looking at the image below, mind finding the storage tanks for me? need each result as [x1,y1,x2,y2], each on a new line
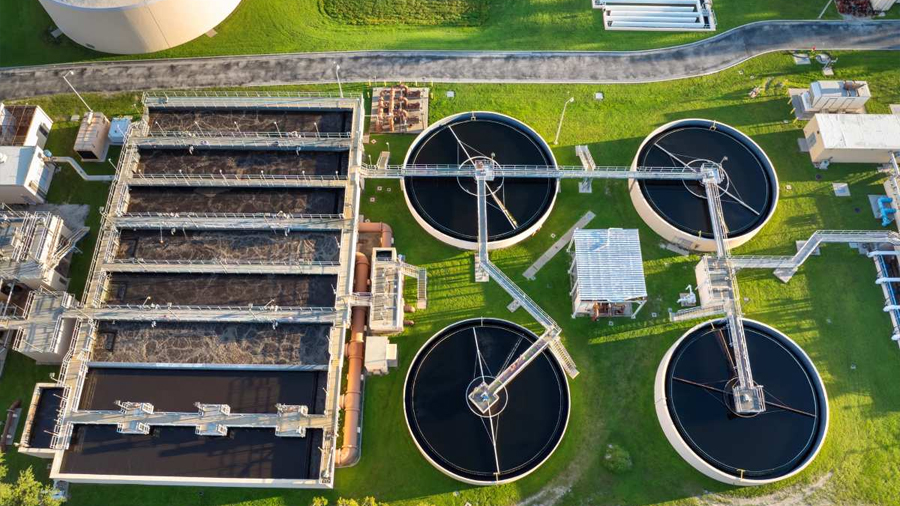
[592,0,717,29]
[403,110,558,249]
[628,118,780,252]
[39,0,243,54]
[654,305,830,485]
[403,316,580,485]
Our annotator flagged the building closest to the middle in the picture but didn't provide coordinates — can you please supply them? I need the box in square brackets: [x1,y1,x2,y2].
[347,248,427,336]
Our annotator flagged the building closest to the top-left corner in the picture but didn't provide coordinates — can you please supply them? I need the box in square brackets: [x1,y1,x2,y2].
[0,104,54,141]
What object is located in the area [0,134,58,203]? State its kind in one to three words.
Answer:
building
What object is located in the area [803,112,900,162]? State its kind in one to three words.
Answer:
building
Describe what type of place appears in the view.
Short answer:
industrial area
